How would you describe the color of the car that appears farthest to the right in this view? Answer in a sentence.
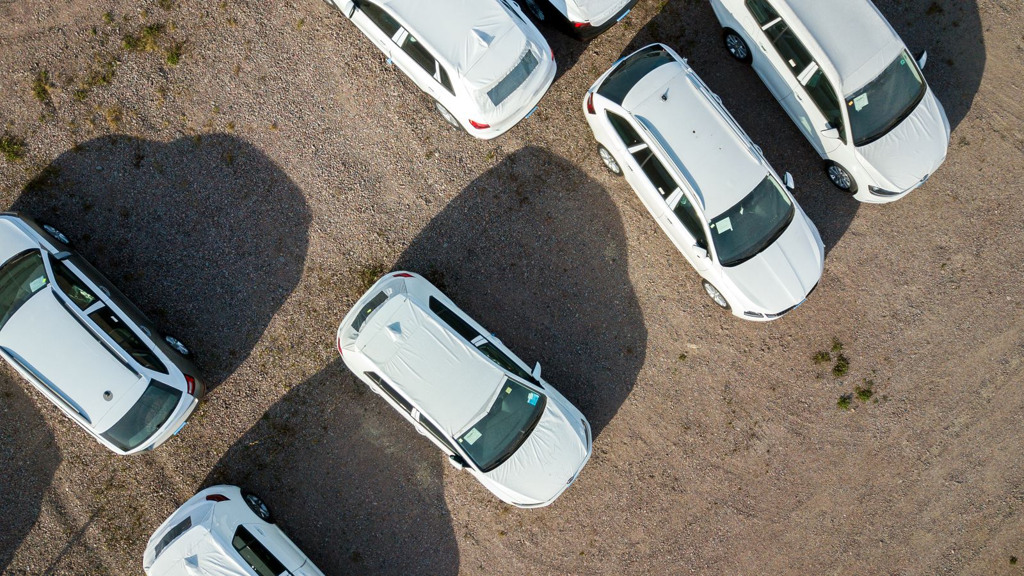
The car that appears farthest to the right is white.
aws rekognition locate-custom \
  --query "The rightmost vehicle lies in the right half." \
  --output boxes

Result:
[581,44,829,321]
